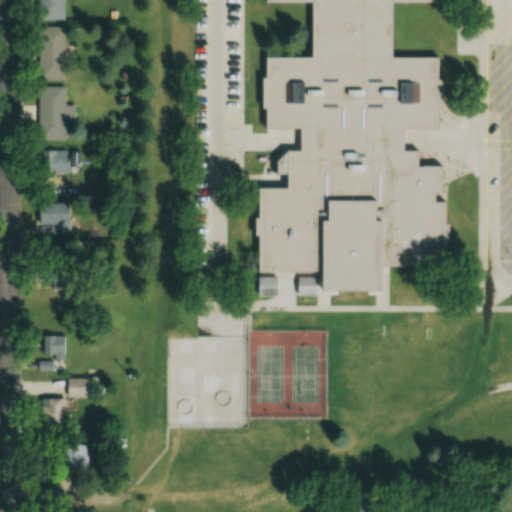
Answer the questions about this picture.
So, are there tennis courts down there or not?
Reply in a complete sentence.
Yes, the image includes a tennis court.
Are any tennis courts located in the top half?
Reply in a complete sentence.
No, in the top half there is no tennis court.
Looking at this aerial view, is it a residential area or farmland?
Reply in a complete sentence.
What you see here is a residential area.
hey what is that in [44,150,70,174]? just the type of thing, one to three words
house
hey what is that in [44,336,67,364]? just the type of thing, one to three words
house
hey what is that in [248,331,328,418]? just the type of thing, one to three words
tennis court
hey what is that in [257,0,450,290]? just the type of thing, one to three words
building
